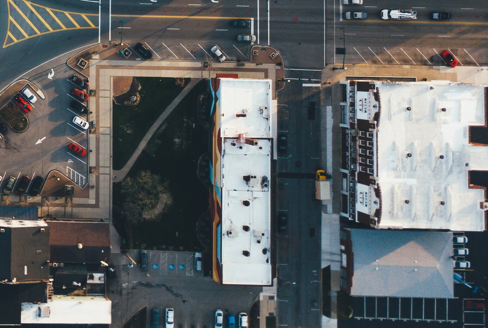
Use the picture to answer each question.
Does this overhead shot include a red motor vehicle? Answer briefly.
Yes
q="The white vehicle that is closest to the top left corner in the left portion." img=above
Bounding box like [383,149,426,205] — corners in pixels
[19,85,38,105]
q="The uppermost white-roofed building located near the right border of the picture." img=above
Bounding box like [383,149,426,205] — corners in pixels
[341,75,488,232]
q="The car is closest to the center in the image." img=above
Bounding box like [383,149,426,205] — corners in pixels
[277,131,289,153]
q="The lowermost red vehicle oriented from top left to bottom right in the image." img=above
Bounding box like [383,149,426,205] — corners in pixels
[66,141,89,158]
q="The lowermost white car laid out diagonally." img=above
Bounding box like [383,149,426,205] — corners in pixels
[70,114,92,132]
